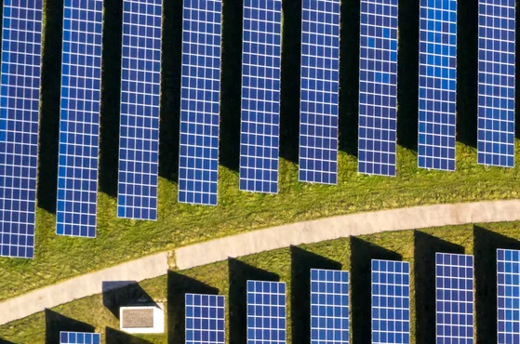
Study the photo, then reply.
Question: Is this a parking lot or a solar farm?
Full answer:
This looks like a solar farm.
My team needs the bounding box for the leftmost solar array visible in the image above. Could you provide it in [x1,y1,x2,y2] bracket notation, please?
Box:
[0,0,43,259]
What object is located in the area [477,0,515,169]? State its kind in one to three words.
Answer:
solar array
